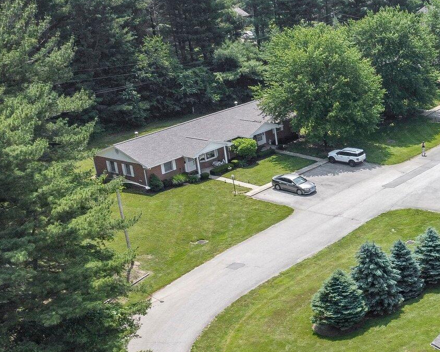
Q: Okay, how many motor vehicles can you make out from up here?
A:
two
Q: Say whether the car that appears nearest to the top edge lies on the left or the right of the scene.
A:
right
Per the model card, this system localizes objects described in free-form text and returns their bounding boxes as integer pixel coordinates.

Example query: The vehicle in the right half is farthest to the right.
[326,145,368,168]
